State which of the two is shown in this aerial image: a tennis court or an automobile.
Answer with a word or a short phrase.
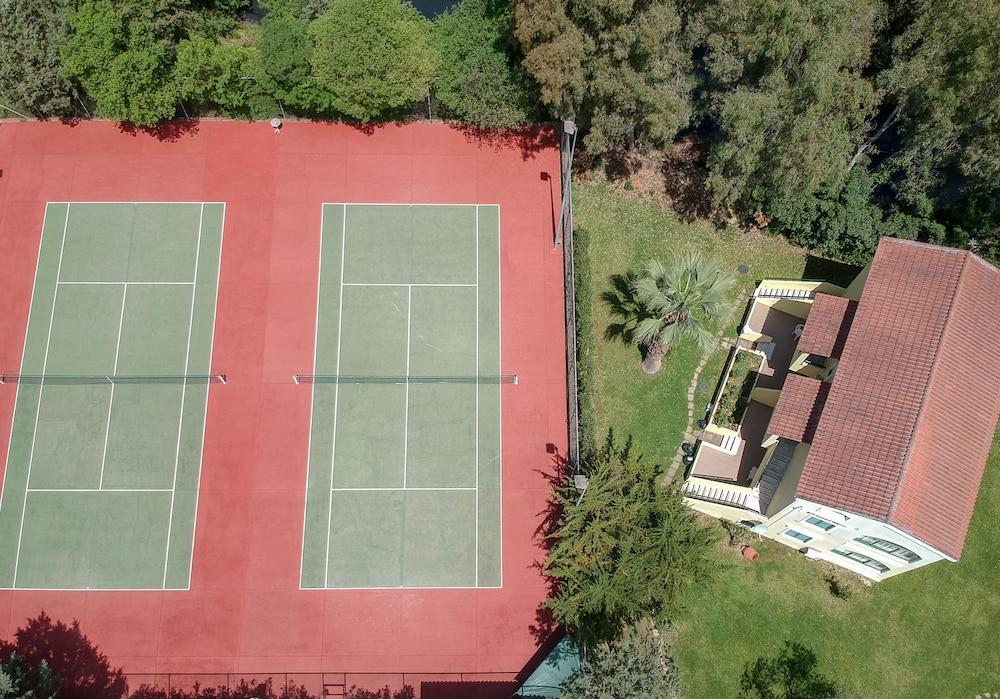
tennis court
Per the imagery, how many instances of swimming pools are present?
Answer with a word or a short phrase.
0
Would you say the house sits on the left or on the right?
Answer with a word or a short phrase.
right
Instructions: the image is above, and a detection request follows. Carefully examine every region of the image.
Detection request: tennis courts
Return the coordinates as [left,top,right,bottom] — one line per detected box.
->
[302,204,501,588]
[0,203,225,591]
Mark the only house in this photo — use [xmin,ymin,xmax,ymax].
[755,234,1000,581]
